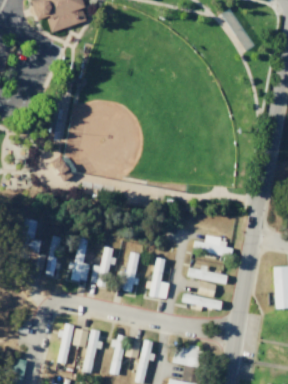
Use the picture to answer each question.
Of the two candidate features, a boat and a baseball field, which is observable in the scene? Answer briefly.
baseball field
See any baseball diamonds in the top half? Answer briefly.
Yes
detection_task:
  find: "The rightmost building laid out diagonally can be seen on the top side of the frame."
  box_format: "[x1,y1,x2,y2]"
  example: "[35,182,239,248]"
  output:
[224,10,254,50]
